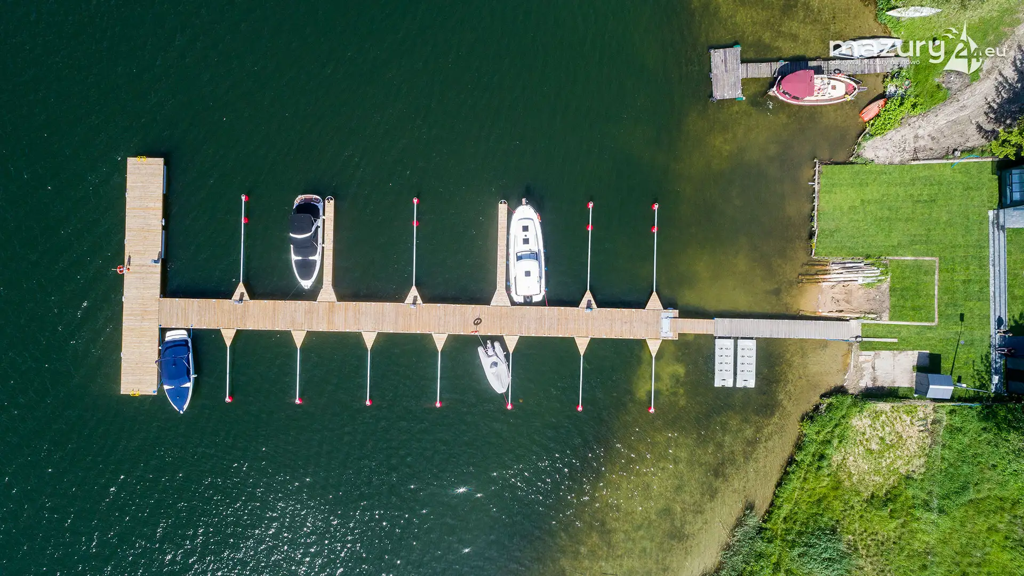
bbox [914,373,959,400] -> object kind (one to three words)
shed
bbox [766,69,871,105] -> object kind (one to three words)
boat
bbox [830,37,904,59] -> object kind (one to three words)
boat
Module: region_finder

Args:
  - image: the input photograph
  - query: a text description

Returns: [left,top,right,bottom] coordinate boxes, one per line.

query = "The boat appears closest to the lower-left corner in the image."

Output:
[152,325,203,415]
